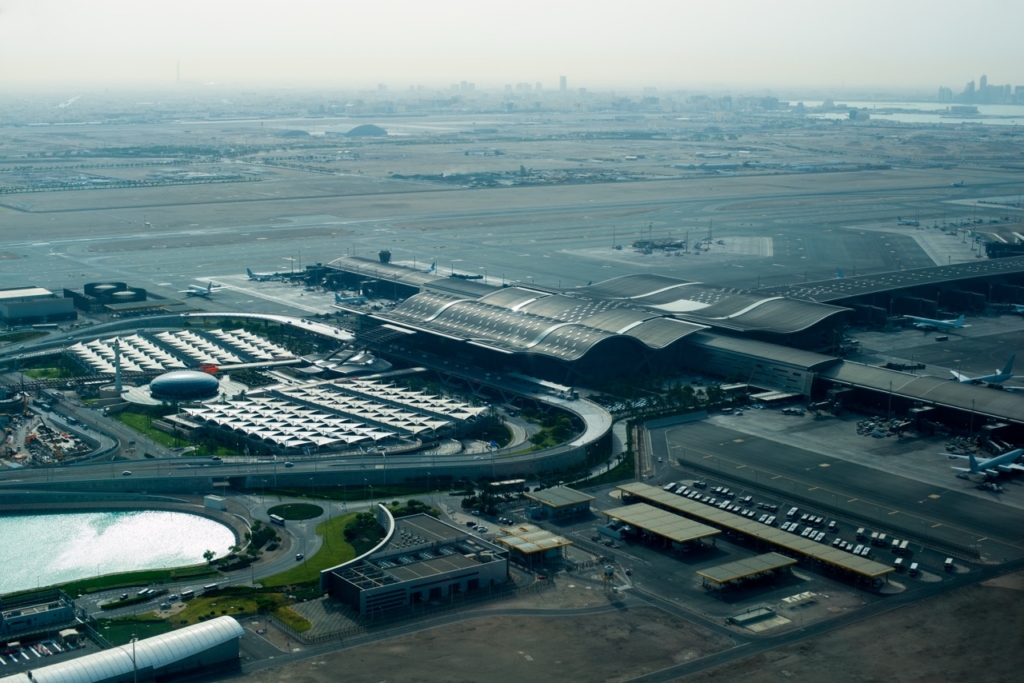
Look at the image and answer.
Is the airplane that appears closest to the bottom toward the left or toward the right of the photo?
right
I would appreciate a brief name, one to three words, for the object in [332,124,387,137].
hangar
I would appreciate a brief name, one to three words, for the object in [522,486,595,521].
building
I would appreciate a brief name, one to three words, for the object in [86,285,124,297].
building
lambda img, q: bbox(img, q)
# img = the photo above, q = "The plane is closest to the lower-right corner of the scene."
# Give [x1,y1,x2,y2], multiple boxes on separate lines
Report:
[939,445,1024,470]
